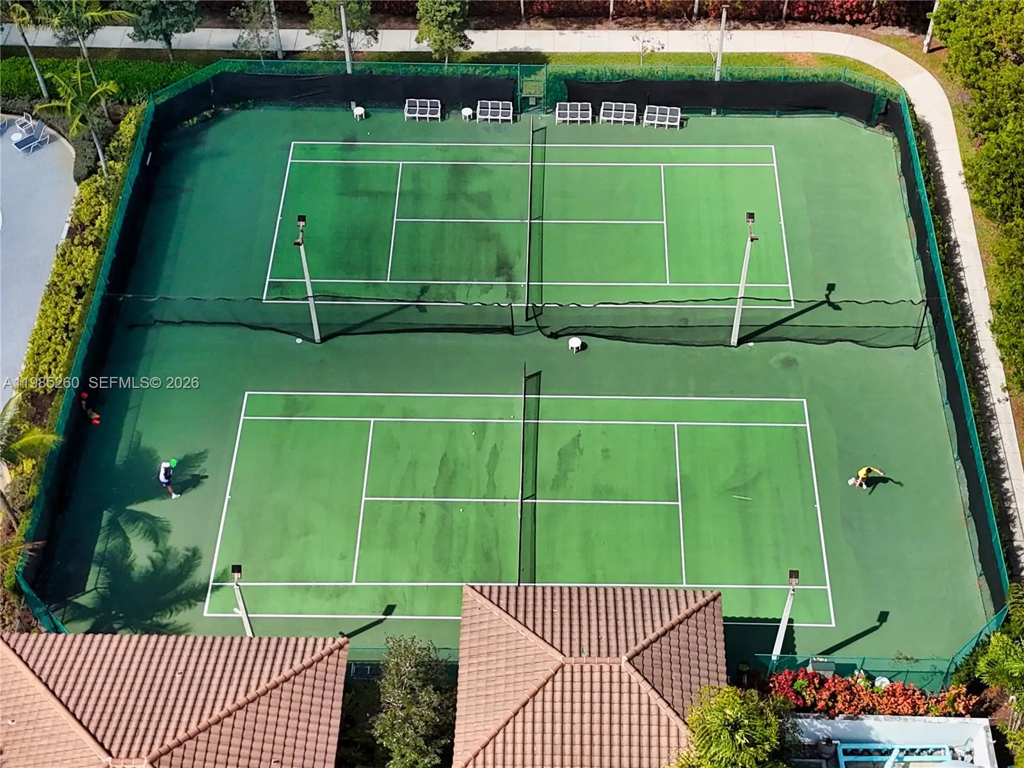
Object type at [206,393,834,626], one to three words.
tennis court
